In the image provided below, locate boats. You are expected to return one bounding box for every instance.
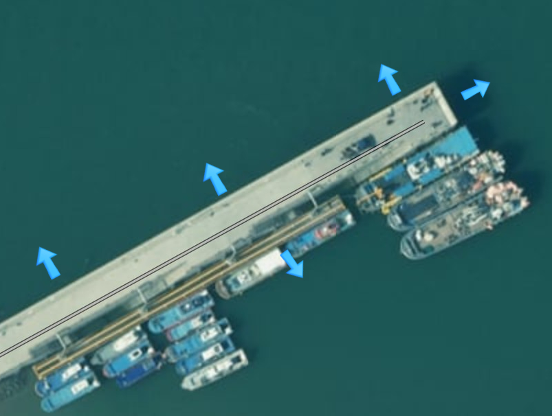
[389,155,511,227]
[401,181,532,255]
[104,343,159,377]
[356,129,480,210]
[220,247,290,295]
[166,320,236,359]
[91,324,152,365]
[182,350,252,389]
[148,291,217,331]
[287,211,357,254]
[176,333,239,373]
[36,358,94,393]
[42,373,103,411]
[166,309,217,340]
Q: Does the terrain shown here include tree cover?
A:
No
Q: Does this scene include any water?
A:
Yes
